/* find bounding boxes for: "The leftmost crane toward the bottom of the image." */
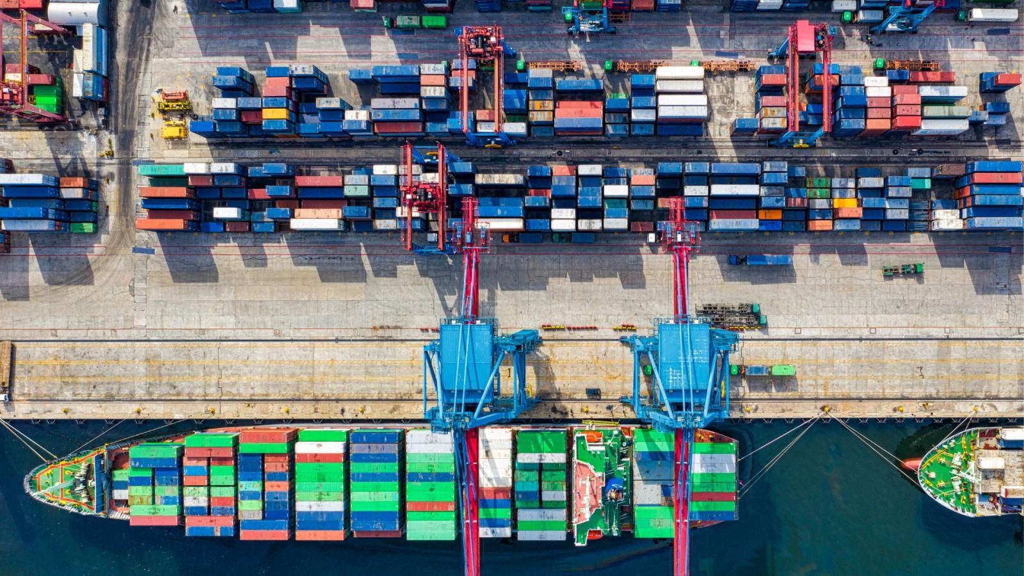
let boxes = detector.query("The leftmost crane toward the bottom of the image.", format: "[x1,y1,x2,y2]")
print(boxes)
[419,197,547,576]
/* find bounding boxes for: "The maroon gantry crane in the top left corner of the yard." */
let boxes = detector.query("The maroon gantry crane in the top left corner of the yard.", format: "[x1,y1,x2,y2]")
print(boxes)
[0,2,81,133]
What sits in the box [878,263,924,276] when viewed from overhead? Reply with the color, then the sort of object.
green vehicle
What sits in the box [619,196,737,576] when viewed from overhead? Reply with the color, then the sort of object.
blue container crane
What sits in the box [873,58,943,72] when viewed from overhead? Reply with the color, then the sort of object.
green vehicle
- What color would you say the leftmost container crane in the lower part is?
blue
